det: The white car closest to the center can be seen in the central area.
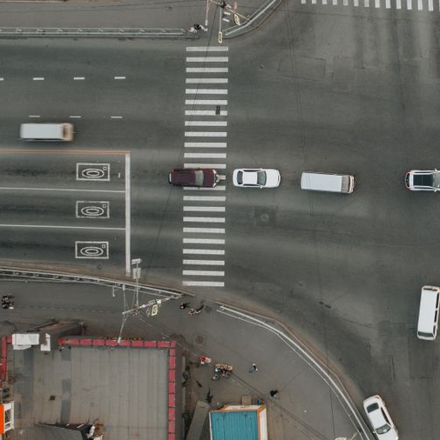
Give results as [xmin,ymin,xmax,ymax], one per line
[232,167,282,189]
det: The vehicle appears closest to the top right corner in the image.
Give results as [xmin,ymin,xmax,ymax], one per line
[405,169,440,192]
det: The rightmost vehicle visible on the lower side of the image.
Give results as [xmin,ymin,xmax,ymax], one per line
[415,284,440,340]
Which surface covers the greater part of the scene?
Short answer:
paved ground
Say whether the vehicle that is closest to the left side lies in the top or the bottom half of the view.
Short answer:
top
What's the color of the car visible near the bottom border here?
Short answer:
white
